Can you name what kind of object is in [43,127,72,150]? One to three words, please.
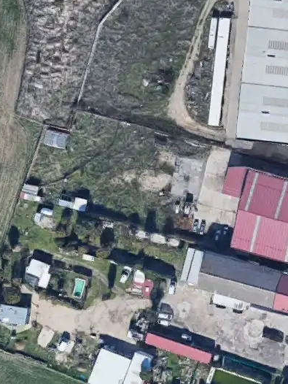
shed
